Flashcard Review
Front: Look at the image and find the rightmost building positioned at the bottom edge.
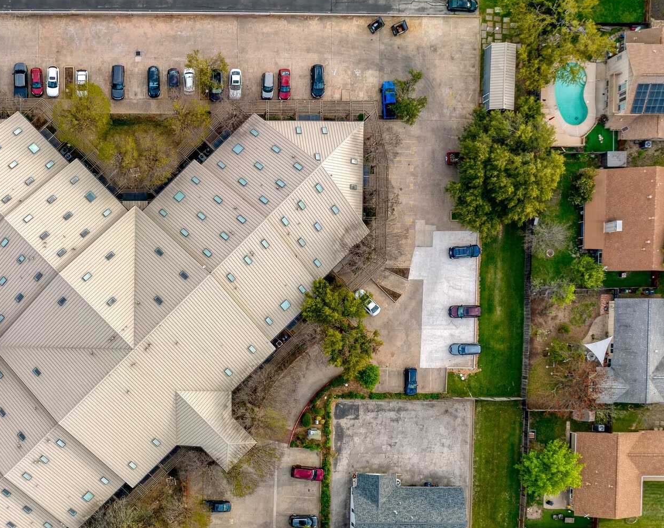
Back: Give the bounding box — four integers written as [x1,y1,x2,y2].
[573,432,664,521]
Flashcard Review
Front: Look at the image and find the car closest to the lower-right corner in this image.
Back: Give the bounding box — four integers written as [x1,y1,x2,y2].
[447,341,480,356]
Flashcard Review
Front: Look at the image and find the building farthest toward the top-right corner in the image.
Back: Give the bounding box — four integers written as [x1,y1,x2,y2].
[605,24,664,138]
